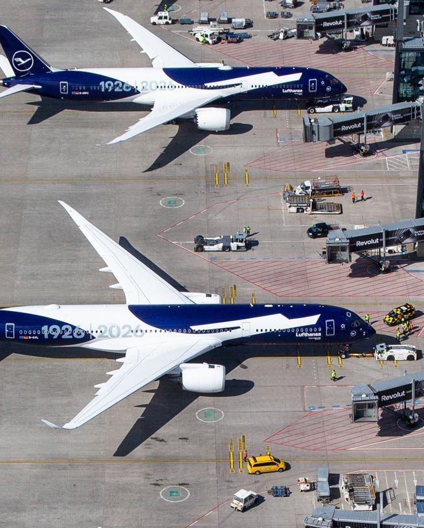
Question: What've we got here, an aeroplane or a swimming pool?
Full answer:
The image shows an aeroplane.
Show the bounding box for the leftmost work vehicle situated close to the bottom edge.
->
[230,487,257,510]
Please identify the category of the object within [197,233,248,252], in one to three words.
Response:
work vehicle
